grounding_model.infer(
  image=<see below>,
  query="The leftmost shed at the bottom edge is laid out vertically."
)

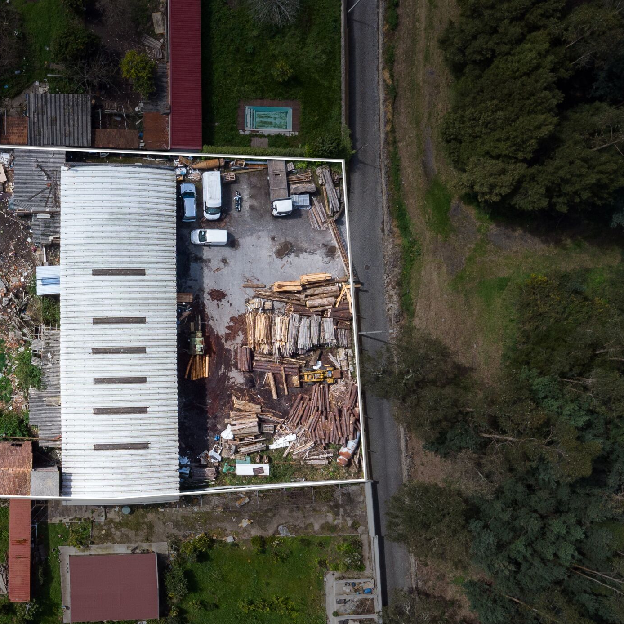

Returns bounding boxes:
[8,496,32,602]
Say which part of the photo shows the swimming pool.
top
